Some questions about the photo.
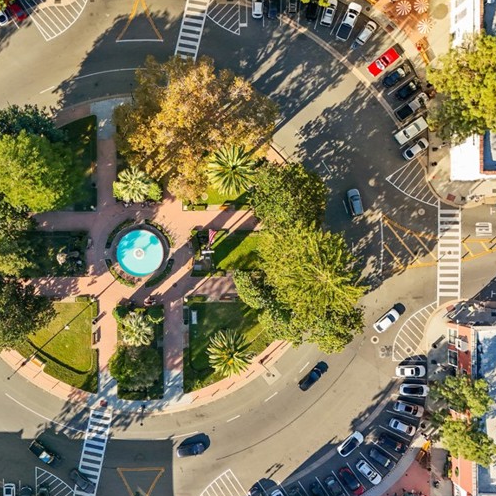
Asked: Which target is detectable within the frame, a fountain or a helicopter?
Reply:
fountain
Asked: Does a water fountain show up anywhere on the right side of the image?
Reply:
No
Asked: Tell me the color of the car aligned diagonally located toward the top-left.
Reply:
red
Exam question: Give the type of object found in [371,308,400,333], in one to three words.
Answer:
car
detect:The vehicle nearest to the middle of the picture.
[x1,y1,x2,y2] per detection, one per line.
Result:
[347,188,363,216]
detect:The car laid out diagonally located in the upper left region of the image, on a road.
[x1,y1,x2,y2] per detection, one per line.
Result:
[4,0,30,24]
